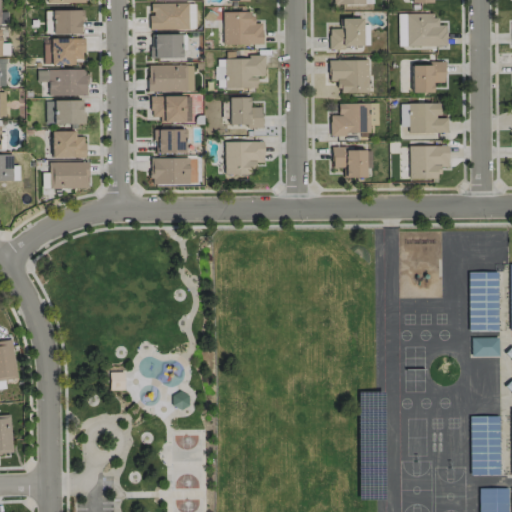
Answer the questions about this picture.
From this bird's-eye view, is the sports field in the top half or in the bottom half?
bottom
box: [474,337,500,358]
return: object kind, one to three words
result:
building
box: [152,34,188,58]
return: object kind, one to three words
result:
house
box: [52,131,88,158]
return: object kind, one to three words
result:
house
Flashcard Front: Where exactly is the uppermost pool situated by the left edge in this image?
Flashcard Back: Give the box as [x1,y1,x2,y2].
[8,66,20,86]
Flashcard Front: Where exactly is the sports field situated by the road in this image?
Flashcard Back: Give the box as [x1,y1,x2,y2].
[217,230,377,512]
